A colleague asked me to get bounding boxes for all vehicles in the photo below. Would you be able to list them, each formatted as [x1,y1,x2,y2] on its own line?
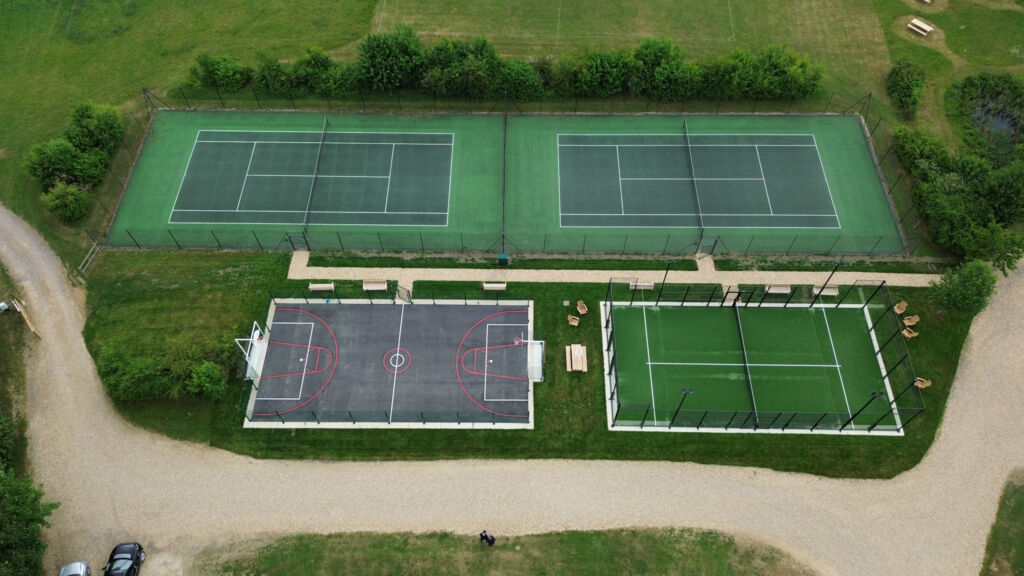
[100,542,144,576]
[58,560,94,576]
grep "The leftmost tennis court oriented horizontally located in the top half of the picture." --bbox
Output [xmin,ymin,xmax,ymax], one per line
[97,107,506,253]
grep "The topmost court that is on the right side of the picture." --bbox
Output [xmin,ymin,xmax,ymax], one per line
[504,110,911,257]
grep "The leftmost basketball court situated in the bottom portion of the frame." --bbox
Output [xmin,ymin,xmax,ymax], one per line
[242,298,544,430]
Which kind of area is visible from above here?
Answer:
sports ground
